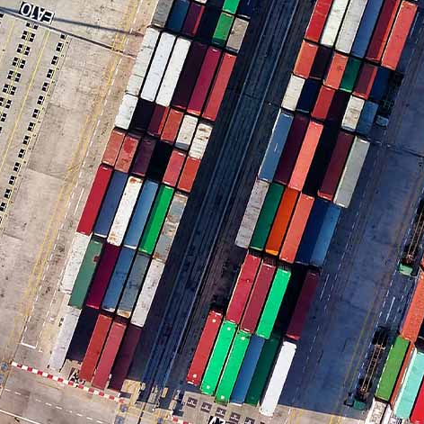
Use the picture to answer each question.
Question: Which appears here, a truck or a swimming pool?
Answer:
truck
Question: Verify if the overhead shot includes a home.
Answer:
No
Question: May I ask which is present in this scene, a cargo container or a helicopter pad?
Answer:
cargo container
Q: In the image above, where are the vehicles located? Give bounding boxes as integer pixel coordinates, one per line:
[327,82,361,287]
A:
[374,47,415,131]
[351,338,392,423]
[399,200,424,281]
